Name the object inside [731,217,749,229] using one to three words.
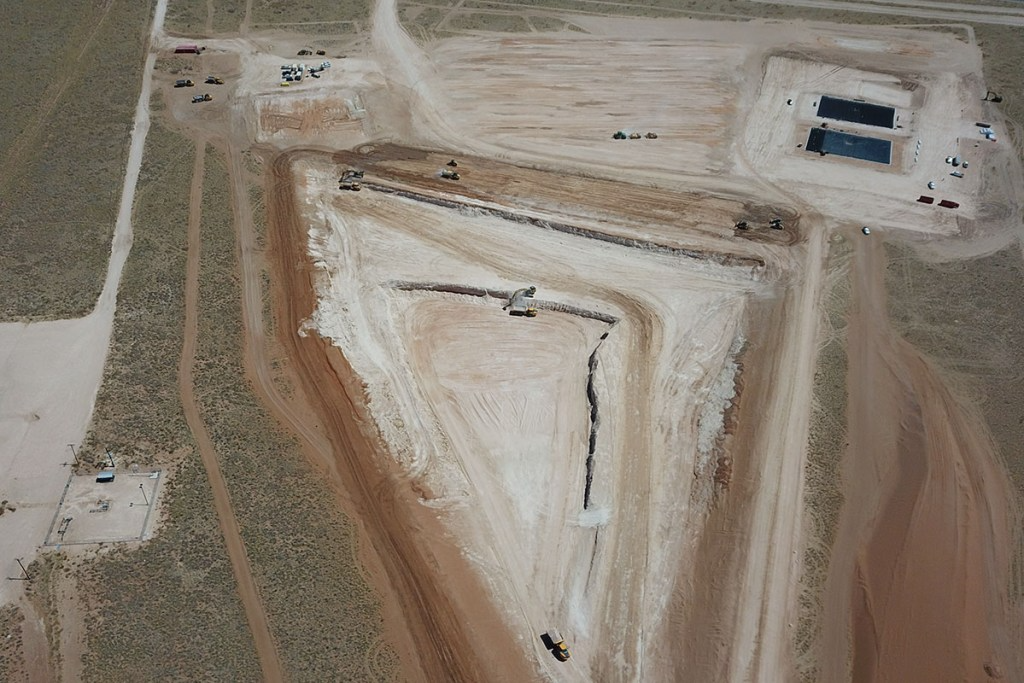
vehicle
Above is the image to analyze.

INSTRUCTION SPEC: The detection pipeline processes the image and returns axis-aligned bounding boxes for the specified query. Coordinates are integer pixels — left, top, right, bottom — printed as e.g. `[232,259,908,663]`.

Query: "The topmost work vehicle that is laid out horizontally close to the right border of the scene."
[982,90,1008,102]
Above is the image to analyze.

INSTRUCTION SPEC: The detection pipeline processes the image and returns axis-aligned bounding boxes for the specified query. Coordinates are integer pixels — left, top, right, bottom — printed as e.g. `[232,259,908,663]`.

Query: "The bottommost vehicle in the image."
[543,624,572,662]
